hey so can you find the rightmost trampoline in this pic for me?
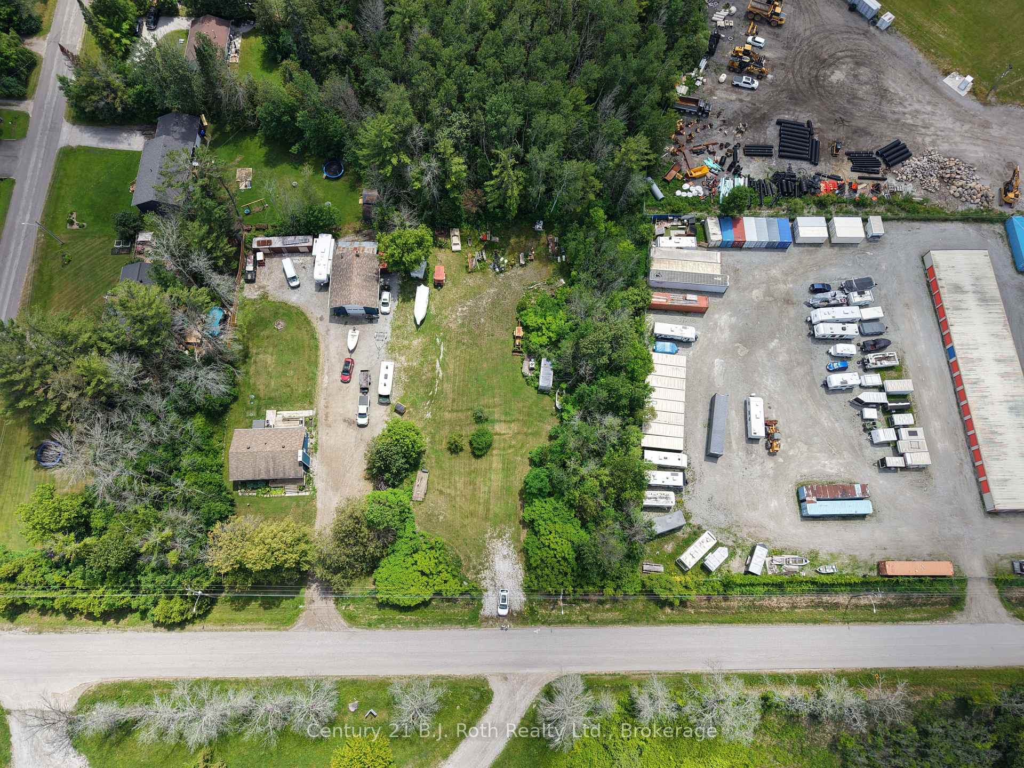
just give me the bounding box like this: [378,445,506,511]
[324,161,342,178]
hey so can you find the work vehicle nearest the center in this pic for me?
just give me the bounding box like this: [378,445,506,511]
[512,321,524,355]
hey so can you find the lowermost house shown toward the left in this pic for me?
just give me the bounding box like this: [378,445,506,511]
[229,427,316,496]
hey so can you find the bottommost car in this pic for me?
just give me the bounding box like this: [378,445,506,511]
[497,589,509,617]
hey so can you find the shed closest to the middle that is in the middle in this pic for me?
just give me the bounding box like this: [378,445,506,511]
[539,359,554,390]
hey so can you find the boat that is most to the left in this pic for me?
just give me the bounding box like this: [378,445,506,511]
[347,327,359,353]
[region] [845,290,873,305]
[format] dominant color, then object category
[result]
white vehicle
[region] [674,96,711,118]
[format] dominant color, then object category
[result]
black truck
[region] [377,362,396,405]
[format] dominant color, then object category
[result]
white camper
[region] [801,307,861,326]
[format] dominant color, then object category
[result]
white trailer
